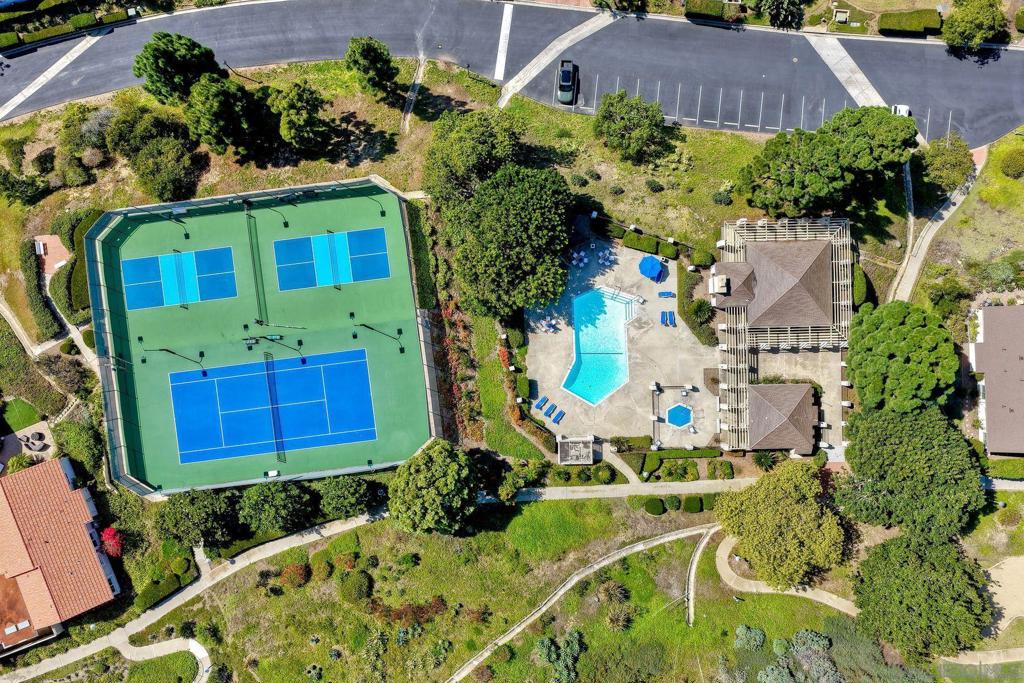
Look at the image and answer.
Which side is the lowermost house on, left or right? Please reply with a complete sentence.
It is on the left.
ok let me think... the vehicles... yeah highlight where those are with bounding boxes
[558,57,576,104]
[890,102,911,122]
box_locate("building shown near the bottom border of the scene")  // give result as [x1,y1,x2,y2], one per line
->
[0,453,125,654]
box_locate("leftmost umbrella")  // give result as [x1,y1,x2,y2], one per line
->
[638,255,662,279]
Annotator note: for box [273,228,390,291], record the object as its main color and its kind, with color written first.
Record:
blue sports court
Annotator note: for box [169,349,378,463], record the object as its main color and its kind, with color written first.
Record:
blue tennis court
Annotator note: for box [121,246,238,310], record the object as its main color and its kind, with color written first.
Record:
blue sports court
